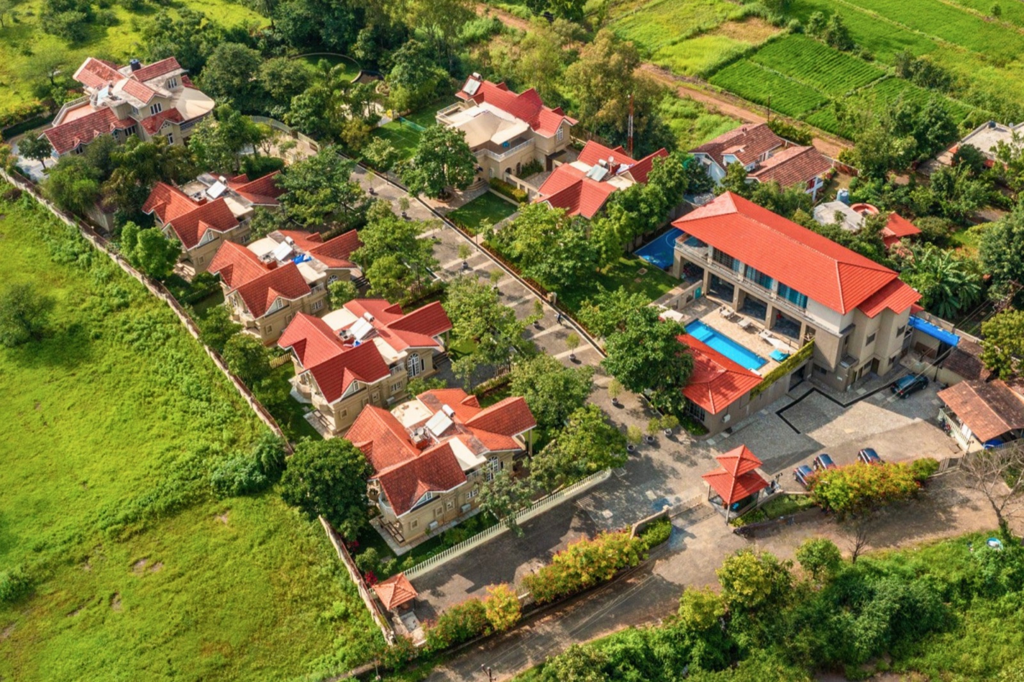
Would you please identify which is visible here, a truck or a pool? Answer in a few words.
pool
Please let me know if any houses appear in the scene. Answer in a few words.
Yes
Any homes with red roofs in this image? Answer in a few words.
Yes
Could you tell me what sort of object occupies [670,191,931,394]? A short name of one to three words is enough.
building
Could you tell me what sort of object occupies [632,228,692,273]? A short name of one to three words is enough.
sports court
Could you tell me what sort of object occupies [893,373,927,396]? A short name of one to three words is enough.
car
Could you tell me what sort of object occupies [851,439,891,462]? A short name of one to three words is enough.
car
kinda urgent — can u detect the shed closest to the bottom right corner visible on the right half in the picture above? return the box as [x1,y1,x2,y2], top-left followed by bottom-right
[934,379,1024,444]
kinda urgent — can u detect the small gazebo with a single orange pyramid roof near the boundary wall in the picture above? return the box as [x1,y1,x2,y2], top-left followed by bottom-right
[371,571,418,623]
